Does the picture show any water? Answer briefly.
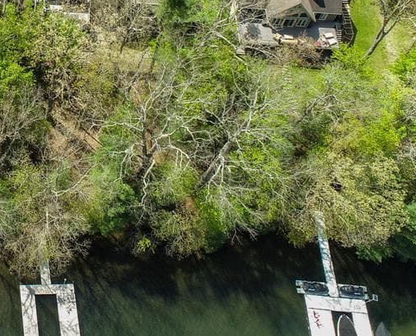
Yes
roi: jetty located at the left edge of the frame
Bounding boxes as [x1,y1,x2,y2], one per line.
[19,234,81,336]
